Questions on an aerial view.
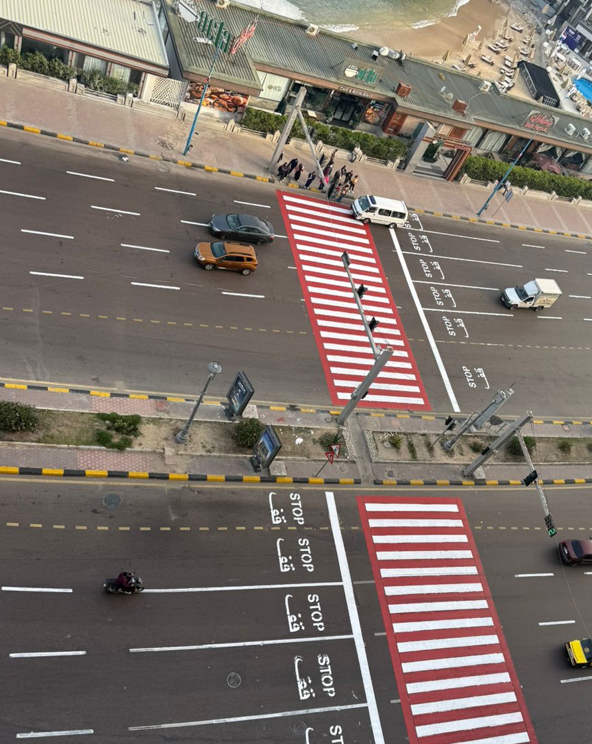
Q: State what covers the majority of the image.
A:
paved ground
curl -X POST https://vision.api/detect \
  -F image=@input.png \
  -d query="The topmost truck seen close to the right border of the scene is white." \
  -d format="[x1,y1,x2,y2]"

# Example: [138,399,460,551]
[499,276,563,309]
